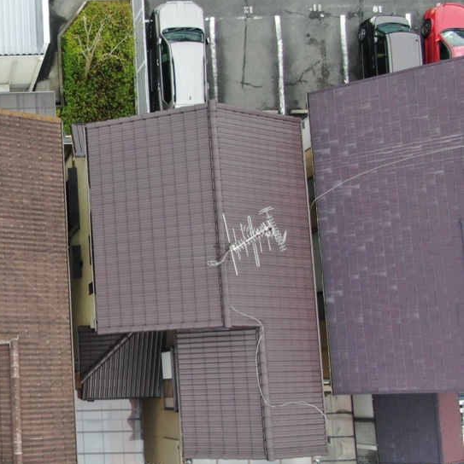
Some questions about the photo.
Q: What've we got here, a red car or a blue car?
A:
red car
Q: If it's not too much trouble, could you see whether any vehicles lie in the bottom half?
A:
No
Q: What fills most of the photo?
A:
buildings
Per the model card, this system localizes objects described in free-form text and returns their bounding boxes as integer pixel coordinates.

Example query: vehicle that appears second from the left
[358,14,421,77]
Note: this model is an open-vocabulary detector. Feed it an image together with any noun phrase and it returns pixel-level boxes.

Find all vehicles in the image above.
[149,3,208,113]
[358,14,421,77]
[418,4,464,65]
